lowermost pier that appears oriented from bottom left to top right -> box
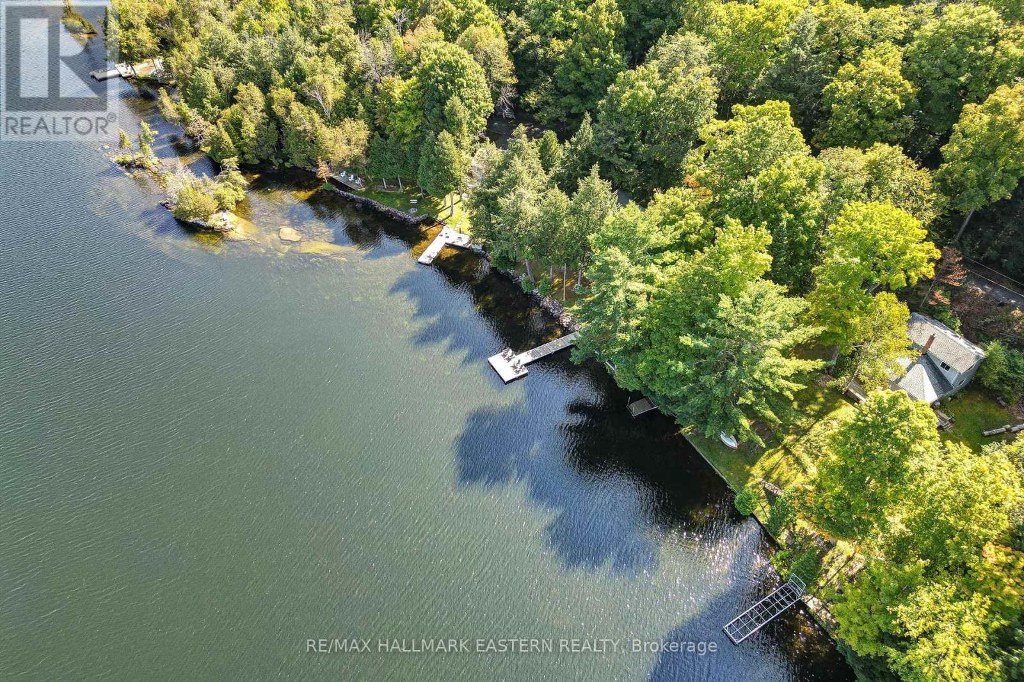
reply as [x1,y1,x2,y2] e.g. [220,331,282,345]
[723,571,813,648]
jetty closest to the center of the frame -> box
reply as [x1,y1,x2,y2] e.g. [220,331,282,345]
[489,330,592,385]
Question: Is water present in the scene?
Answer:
Yes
